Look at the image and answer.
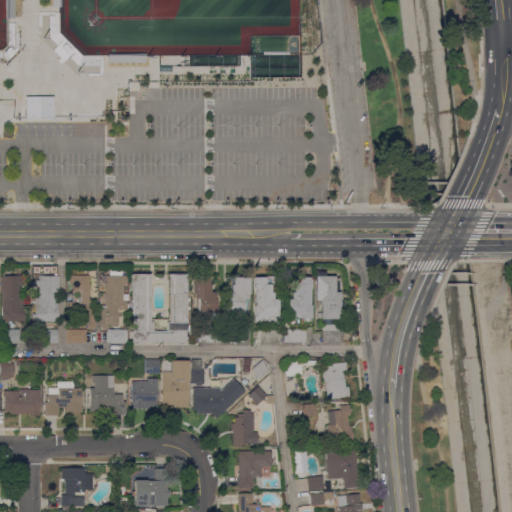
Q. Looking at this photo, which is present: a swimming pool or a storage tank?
swimming pool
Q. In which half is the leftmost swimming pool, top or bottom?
bottom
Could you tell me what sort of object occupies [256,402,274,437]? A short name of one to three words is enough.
swimming pool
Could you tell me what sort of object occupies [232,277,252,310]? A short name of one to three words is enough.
building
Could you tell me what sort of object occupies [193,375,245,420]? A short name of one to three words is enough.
house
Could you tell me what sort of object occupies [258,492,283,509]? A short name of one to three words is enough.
swimming pool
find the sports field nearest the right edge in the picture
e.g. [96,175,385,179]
[251,36,300,54]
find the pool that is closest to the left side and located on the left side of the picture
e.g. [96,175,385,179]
[90,475,112,505]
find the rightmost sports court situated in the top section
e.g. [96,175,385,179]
[251,54,302,77]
